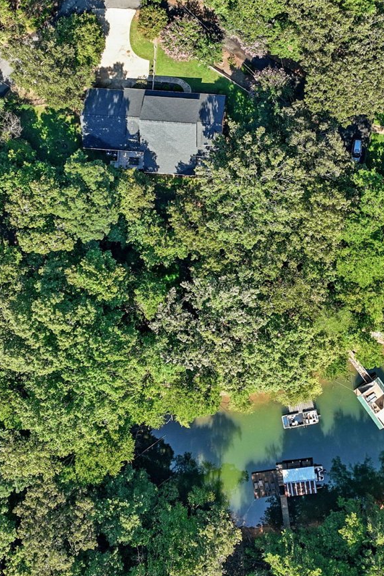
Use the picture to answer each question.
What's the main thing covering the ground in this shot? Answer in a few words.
trees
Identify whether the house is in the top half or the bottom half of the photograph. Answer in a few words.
top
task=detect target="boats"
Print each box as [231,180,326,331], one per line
[314,469,329,480]
[283,410,320,428]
